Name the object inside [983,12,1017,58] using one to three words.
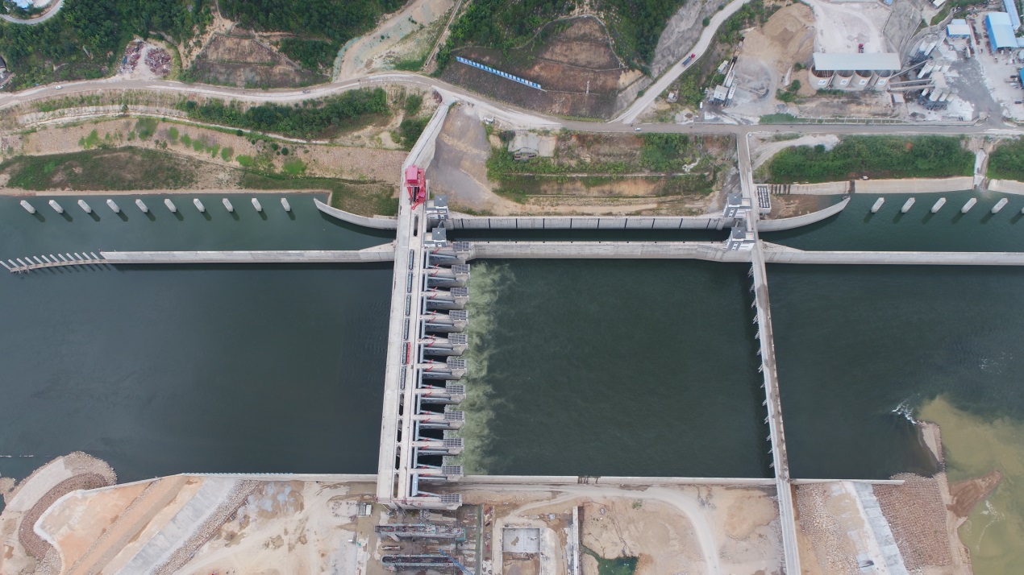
building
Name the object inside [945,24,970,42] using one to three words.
building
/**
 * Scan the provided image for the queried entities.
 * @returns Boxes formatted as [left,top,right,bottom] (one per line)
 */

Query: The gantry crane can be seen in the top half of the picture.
[403,165,428,211]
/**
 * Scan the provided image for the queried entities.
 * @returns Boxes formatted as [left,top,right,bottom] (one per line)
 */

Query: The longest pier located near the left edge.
[2,249,108,270]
